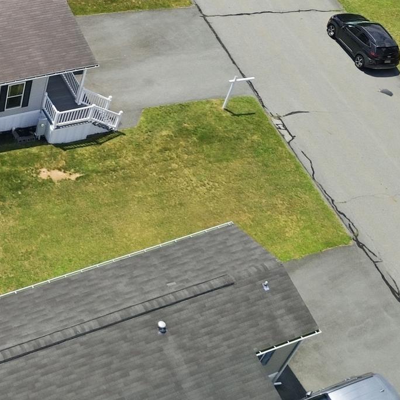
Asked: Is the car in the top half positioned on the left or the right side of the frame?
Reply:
right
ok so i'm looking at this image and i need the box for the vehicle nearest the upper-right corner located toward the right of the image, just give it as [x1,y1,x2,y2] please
[327,13,400,73]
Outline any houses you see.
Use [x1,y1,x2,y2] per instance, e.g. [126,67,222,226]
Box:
[0,220,324,400]
[0,0,124,144]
